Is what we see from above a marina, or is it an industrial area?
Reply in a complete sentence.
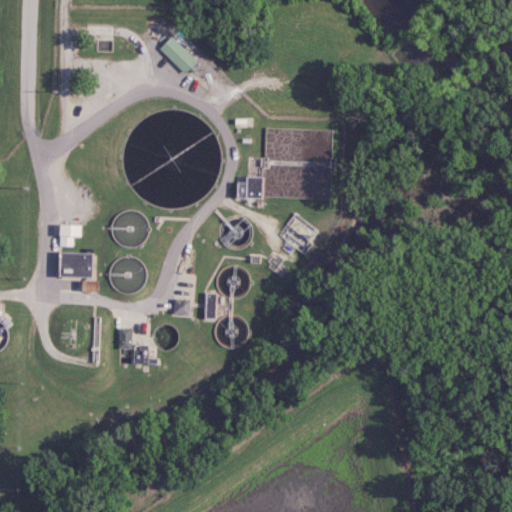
What you see here is an industrial area.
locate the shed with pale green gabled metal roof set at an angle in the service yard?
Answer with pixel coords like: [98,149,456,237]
[160,37,196,72]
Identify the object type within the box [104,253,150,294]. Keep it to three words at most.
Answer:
storage tank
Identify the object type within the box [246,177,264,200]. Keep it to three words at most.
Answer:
building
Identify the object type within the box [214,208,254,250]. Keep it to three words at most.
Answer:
storage tank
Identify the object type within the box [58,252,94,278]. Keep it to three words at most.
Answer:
building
